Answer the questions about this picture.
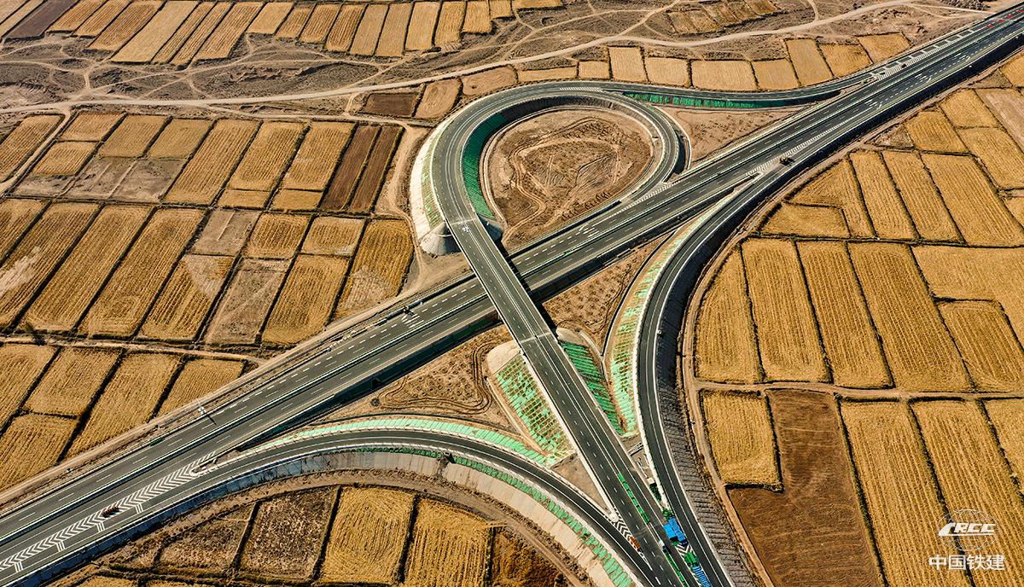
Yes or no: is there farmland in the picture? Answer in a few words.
Yes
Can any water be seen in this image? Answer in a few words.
No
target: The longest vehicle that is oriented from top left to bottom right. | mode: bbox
[657,536,670,552]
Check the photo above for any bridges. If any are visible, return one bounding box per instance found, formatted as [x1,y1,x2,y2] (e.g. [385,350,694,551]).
[420,216,582,371]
